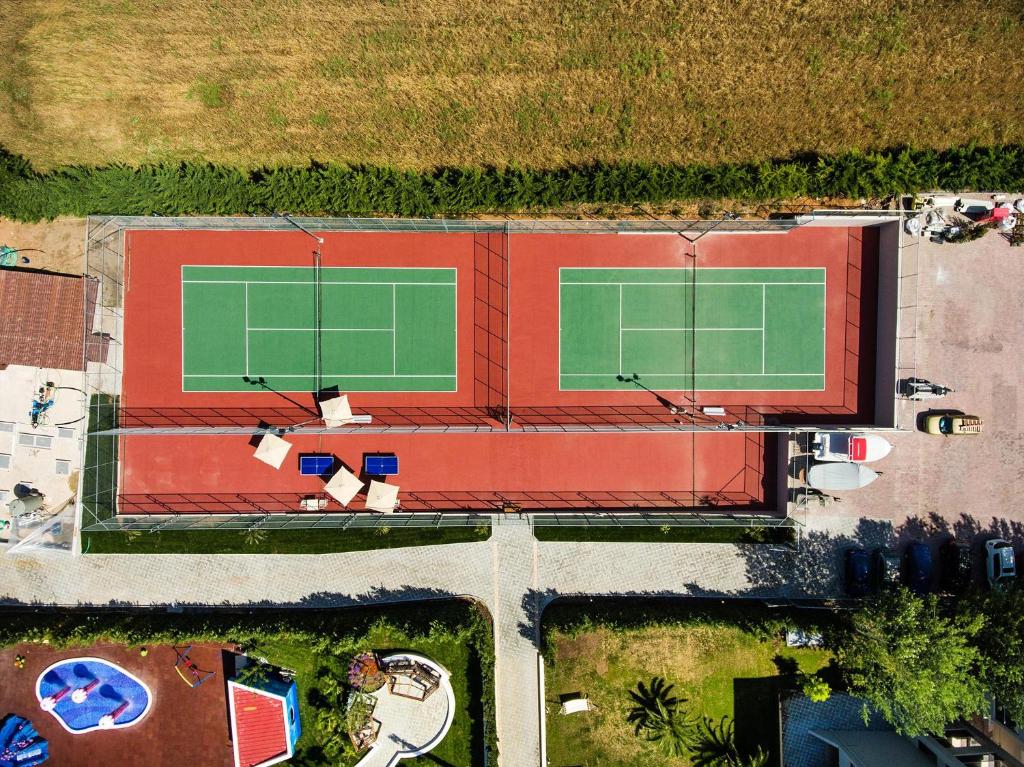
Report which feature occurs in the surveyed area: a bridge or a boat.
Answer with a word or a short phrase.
boat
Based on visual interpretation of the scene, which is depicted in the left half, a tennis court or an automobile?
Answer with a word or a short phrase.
tennis court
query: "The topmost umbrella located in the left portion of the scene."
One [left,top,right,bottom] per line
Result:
[319,394,353,429]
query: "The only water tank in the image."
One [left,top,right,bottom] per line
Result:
[9,493,50,515]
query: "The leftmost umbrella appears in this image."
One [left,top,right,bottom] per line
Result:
[253,433,293,470]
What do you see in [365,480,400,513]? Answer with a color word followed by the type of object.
white umbrella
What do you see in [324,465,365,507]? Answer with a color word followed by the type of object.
white umbrella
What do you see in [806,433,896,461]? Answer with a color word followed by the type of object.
white boat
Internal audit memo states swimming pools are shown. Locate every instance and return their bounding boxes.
[35,656,154,734]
